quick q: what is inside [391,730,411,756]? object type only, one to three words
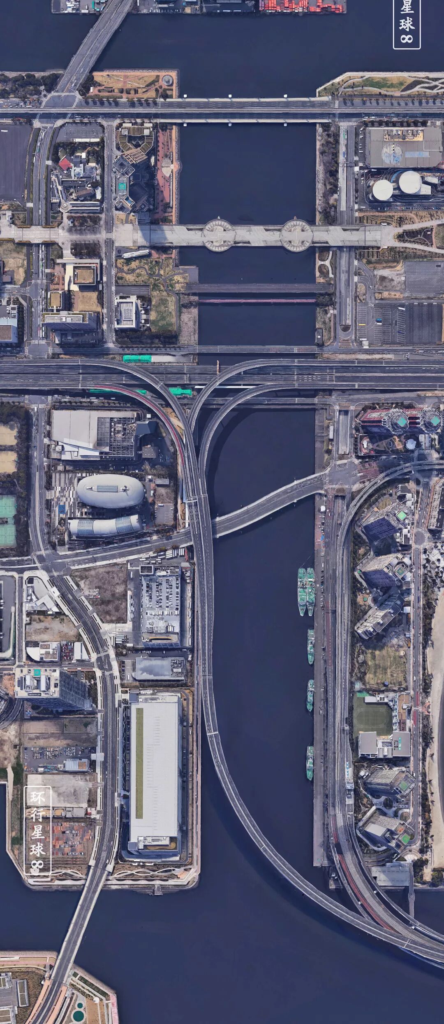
building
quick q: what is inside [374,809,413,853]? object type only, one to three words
building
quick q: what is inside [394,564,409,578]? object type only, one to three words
helipad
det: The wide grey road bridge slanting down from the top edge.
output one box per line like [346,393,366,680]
[59,0,132,97]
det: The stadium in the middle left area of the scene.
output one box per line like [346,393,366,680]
[77,475,146,509]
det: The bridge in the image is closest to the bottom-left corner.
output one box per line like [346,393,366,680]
[50,862,109,982]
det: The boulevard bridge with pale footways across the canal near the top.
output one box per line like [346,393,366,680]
[164,98,332,122]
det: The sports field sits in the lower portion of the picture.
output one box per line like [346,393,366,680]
[353,693,392,737]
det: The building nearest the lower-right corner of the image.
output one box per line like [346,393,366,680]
[370,863,410,886]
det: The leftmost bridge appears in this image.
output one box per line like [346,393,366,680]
[14,223,58,243]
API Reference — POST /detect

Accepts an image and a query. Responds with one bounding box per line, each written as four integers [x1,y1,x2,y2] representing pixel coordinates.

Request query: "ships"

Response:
[308,629,314,664]
[306,745,313,780]
[307,679,314,712]
[298,568,306,616]
[306,568,315,616]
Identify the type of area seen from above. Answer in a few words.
port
